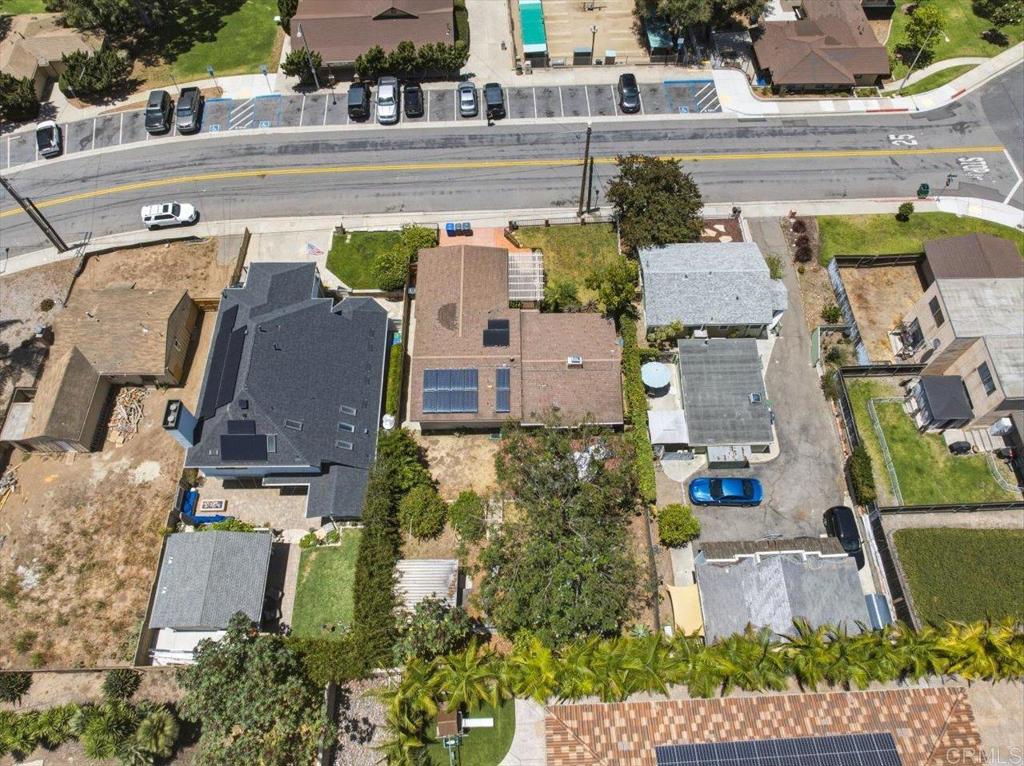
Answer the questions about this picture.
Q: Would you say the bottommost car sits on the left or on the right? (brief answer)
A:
right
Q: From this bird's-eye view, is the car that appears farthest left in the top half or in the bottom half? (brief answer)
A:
top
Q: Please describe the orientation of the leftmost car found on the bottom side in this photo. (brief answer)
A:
horizontally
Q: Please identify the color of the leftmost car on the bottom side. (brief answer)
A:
blue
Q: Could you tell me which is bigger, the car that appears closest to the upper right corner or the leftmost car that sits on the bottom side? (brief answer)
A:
the leftmost car that sits on the bottom side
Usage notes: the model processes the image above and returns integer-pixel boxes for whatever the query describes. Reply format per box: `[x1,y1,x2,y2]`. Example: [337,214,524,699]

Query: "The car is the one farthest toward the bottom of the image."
[820,501,868,574]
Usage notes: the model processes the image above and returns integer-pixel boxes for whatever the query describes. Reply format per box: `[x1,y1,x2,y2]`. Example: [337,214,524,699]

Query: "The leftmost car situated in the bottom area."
[687,476,763,510]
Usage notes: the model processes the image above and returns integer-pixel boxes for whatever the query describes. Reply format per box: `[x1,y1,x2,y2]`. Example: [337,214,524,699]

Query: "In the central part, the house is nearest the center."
[410,245,624,435]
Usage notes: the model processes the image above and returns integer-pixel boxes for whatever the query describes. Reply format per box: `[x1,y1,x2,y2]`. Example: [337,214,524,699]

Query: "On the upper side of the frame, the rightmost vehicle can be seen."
[616,73,641,114]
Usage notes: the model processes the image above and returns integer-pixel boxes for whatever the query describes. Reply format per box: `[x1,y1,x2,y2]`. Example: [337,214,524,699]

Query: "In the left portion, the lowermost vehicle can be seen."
[140,201,199,229]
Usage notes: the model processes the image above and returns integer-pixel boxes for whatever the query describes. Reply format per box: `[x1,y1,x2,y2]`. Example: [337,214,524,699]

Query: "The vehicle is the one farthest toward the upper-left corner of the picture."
[36,125,66,160]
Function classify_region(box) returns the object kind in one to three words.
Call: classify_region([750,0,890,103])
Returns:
house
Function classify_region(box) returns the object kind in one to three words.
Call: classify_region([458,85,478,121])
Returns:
car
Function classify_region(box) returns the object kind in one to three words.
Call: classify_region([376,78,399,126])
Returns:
truck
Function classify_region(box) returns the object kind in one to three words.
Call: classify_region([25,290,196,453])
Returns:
house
